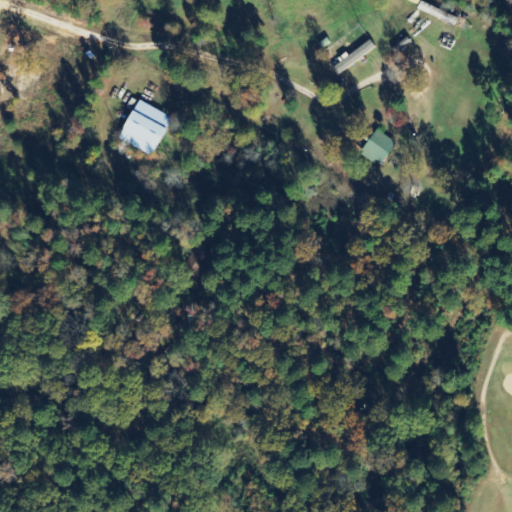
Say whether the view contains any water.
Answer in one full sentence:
No, there's no water in this view.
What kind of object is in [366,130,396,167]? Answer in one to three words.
house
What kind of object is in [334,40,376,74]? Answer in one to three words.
house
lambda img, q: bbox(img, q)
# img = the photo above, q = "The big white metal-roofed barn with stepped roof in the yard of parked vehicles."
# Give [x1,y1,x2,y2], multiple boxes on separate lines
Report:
[119,100,167,154]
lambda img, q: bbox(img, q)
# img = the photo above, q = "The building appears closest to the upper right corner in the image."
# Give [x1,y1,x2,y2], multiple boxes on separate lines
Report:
[416,0,457,26]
